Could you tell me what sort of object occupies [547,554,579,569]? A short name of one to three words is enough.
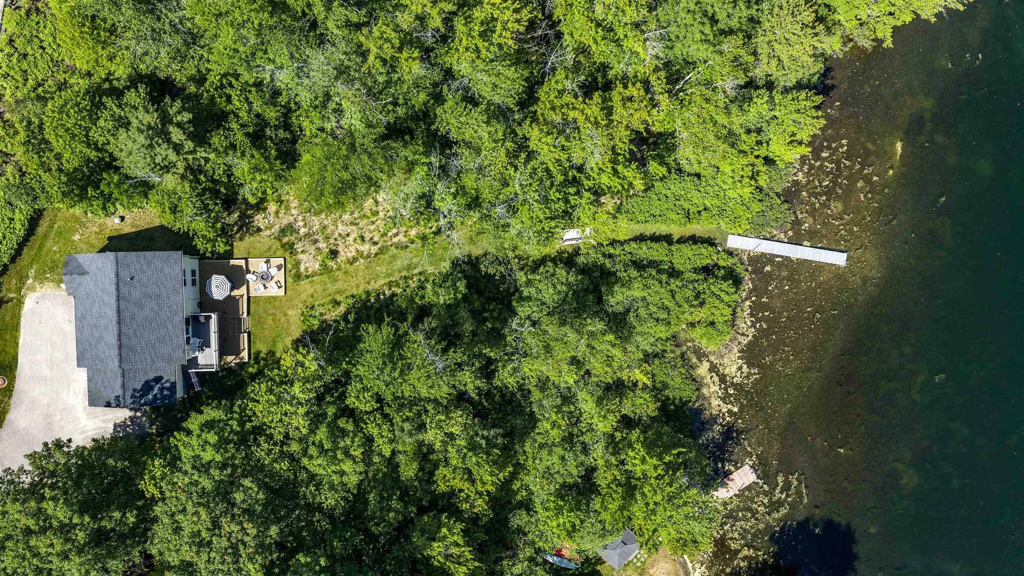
boat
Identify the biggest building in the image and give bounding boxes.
[62,251,201,408]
